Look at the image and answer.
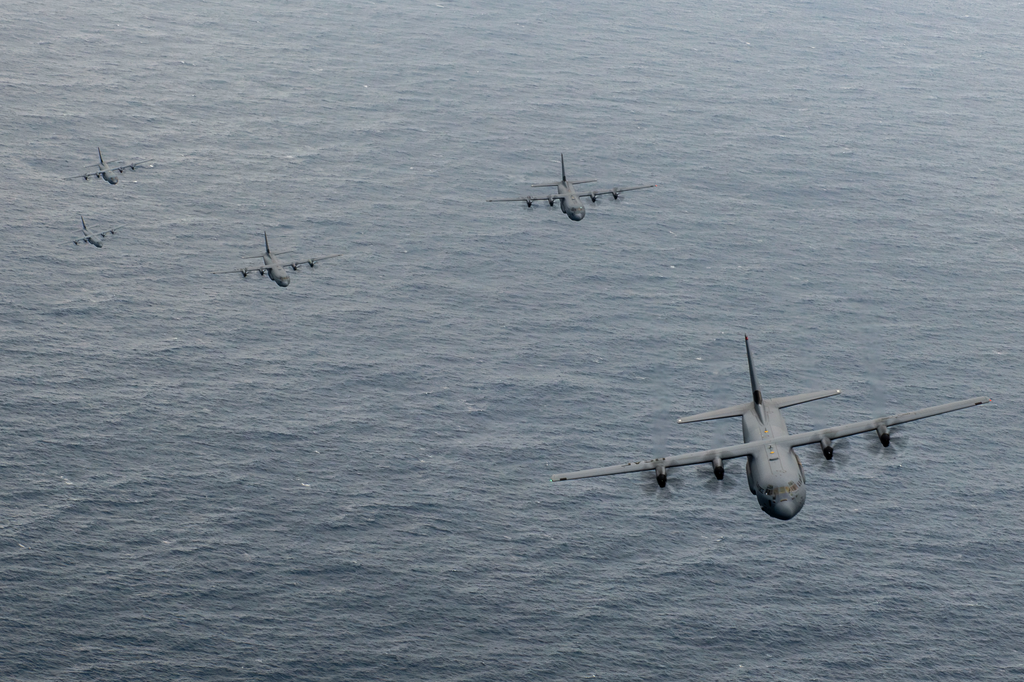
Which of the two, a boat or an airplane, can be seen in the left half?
airplane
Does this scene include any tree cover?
No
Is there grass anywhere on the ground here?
No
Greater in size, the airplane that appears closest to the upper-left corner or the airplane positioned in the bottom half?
the airplane positioned in the bottom half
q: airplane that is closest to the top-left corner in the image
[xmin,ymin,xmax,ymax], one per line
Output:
[61,146,153,184]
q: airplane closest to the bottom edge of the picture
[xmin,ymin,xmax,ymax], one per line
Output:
[550,331,990,521]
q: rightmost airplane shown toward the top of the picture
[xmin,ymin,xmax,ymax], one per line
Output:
[485,153,656,221]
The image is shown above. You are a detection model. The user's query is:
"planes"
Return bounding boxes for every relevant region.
[61,146,153,184]
[550,331,990,521]
[56,215,128,247]
[485,153,656,221]
[209,230,342,287]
